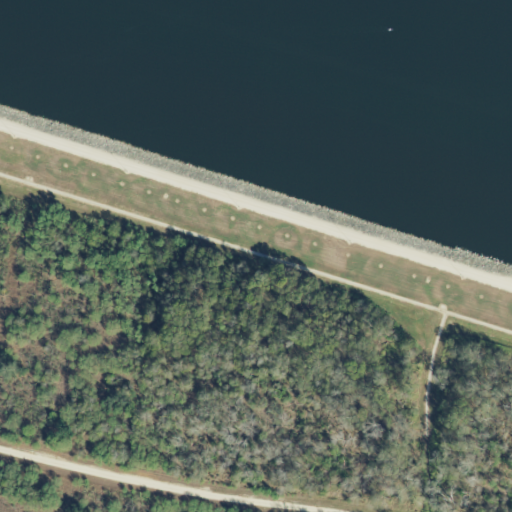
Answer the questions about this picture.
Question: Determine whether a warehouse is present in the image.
No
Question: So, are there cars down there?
No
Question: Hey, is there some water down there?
Yes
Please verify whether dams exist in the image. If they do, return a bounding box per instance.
[0,102,512,326]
